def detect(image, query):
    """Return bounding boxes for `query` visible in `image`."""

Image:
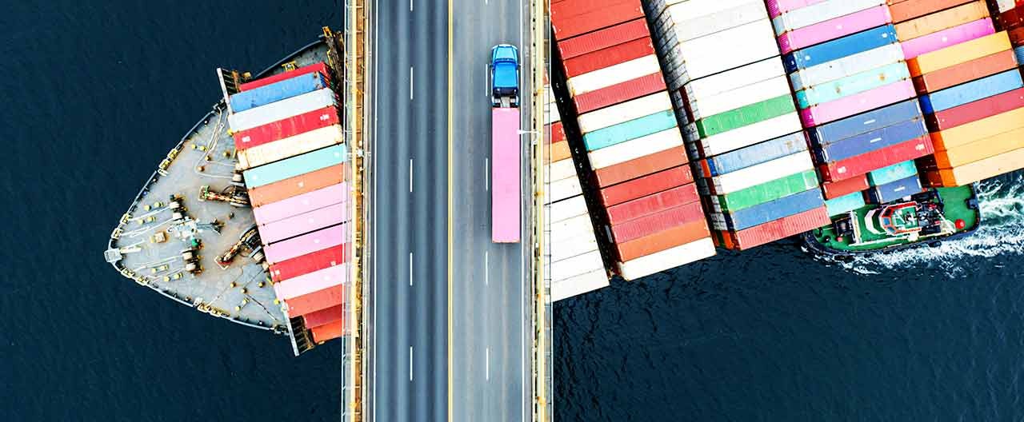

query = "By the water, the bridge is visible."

[341,0,555,422]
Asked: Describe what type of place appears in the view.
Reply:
port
